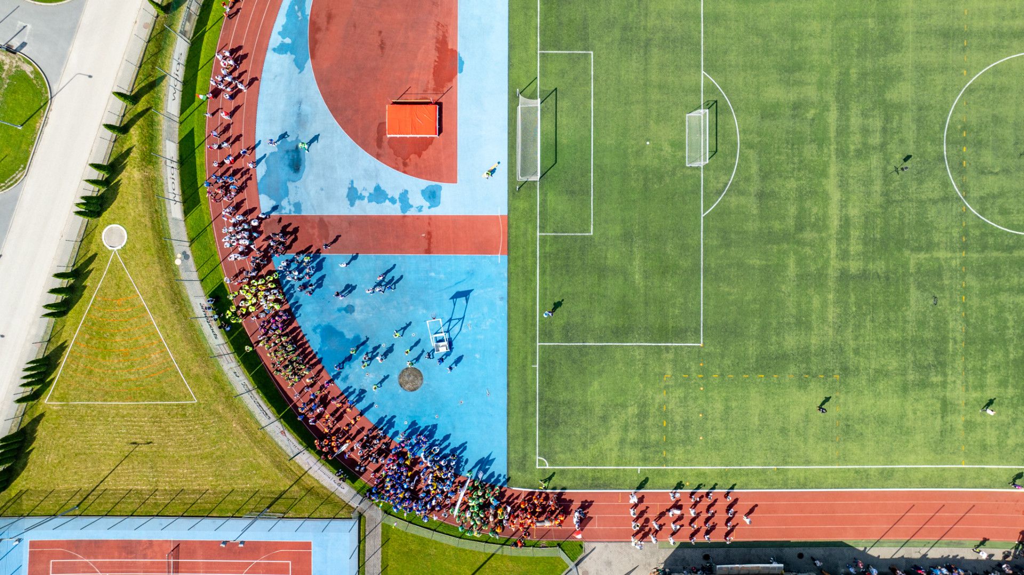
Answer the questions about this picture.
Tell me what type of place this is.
sports ground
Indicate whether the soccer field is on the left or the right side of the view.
right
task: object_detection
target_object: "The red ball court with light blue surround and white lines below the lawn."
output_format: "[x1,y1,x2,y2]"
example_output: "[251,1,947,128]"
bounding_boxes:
[0,519,357,575]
